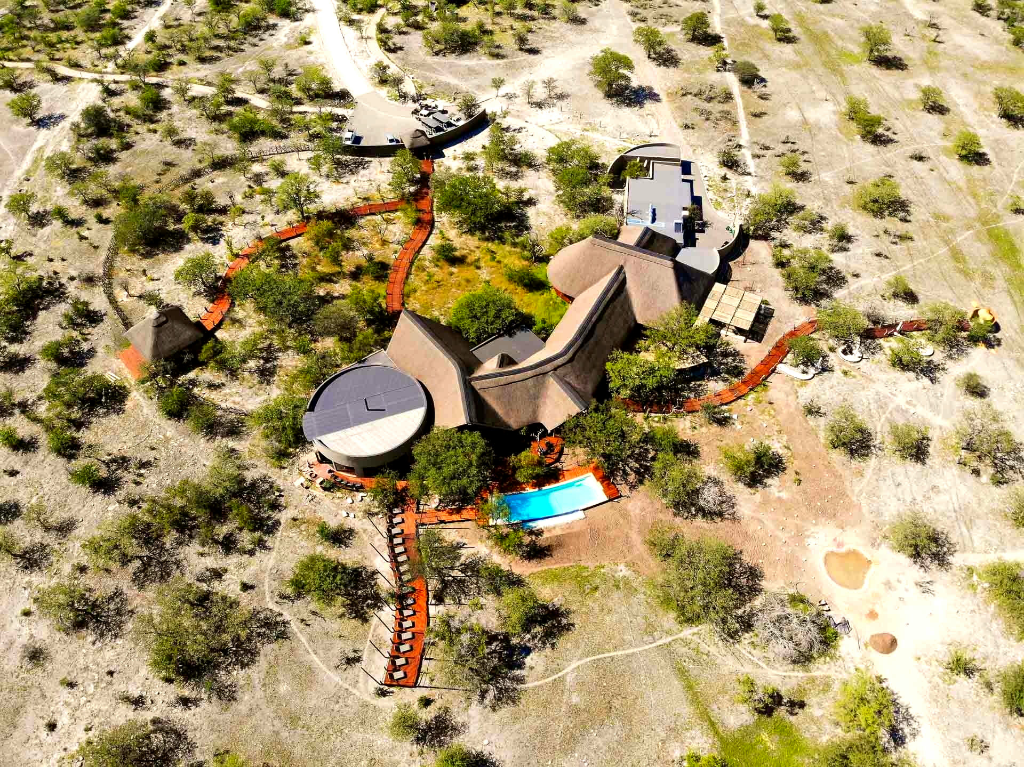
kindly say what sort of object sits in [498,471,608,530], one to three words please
swimming pool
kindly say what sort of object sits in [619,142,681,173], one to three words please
building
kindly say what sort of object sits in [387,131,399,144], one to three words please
vehicle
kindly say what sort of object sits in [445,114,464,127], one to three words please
vehicle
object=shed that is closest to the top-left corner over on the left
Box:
[124,306,203,360]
